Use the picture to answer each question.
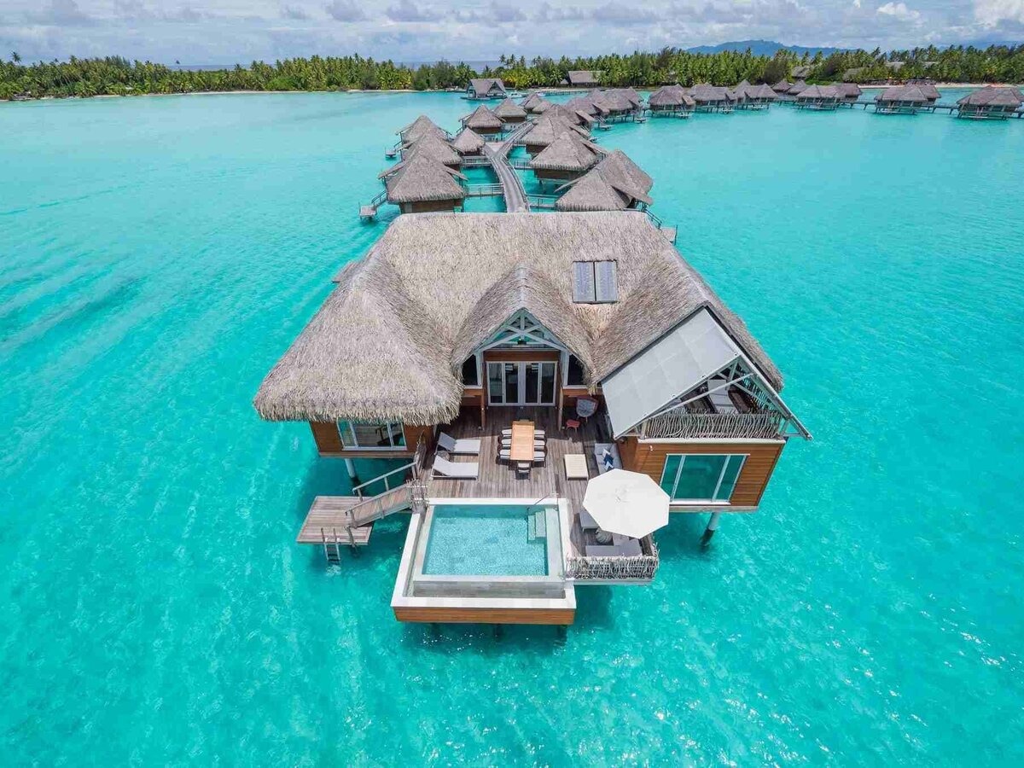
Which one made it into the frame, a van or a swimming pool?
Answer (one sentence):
There is a swimming pool in the scene.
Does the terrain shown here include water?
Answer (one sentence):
Yes, water shows up in the scene.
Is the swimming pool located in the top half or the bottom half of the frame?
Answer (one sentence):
You can find the swimming pool in the bottom half.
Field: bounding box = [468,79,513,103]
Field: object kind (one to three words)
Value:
building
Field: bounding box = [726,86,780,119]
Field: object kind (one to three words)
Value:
house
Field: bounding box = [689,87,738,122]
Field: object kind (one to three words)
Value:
house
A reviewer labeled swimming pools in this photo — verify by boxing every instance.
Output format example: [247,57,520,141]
[391,489,578,623]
